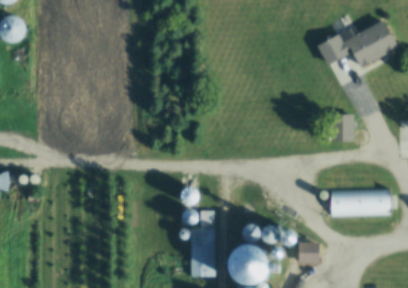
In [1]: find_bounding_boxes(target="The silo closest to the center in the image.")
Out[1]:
[180,188,201,208]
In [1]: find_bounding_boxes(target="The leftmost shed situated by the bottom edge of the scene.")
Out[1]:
[191,228,216,277]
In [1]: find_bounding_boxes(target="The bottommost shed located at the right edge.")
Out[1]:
[332,190,390,216]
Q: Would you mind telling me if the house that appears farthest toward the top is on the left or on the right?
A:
right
